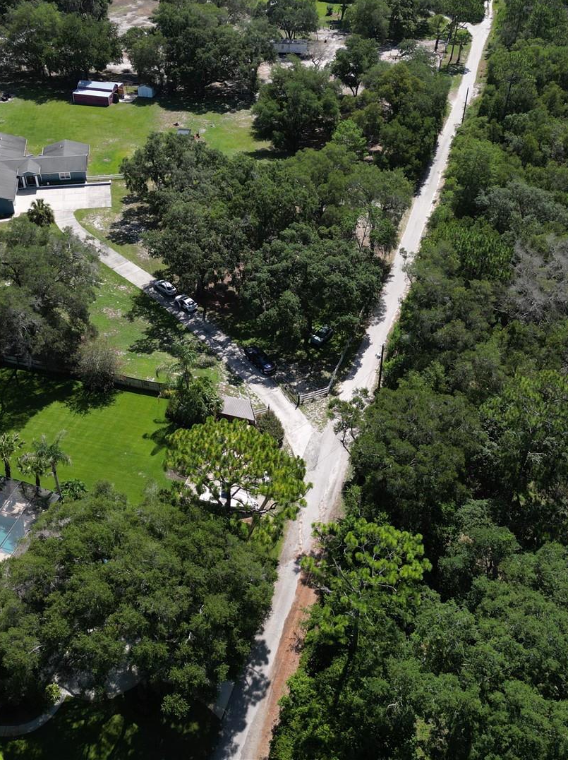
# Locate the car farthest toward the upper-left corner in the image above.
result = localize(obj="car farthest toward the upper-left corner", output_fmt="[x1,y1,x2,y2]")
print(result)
[152,277,179,298]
